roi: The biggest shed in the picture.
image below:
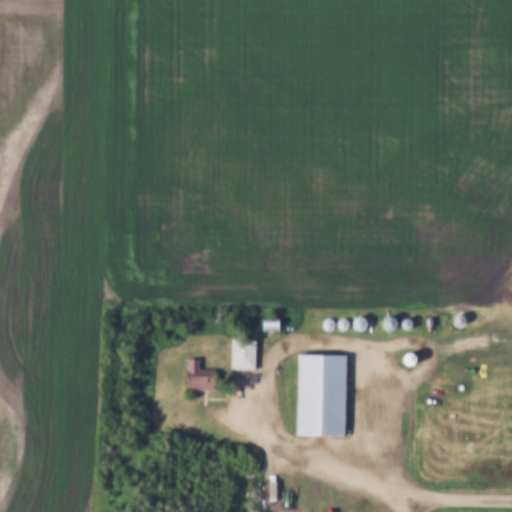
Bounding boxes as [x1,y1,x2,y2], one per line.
[296,355,348,438]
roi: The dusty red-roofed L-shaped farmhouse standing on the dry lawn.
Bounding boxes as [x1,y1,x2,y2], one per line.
[188,359,216,392]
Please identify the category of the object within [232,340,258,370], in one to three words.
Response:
building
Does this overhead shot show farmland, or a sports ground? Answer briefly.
farmland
